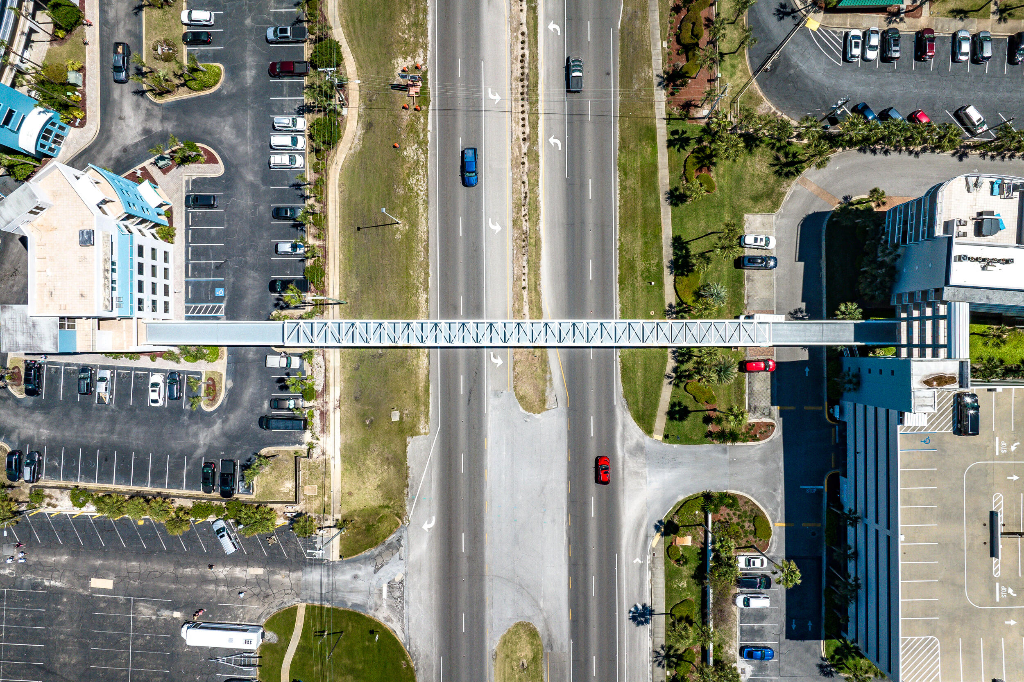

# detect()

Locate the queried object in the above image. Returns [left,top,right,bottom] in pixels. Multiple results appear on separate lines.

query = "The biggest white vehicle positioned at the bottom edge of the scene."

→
[184,620,264,649]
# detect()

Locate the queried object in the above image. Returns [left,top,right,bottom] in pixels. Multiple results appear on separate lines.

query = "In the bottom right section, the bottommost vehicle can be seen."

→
[741,645,773,663]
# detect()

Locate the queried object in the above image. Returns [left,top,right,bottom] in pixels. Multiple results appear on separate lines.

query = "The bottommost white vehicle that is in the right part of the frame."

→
[737,592,770,610]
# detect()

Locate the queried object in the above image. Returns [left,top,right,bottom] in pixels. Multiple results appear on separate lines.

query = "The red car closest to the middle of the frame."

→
[595,455,611,484]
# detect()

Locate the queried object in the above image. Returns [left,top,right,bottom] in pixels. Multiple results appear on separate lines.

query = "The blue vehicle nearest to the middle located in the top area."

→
[462,147,479,187]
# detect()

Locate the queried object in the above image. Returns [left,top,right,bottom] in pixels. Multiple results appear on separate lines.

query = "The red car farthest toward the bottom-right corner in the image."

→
[743,358,775,374]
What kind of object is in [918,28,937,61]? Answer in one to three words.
car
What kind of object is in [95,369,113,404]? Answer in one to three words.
vehicle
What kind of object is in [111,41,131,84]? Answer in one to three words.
vehicle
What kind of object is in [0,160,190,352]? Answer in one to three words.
building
